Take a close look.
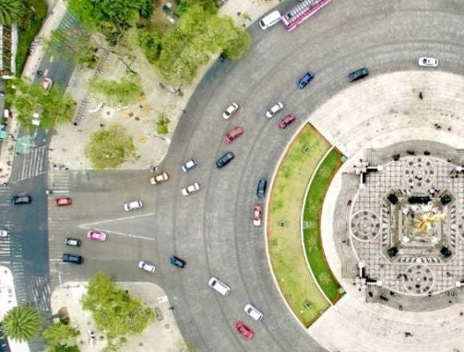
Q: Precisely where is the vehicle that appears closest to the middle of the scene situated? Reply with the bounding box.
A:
[217,151,235,167]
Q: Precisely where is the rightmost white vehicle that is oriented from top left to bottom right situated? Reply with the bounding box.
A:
[244,302,264,321]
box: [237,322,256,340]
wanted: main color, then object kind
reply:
red car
